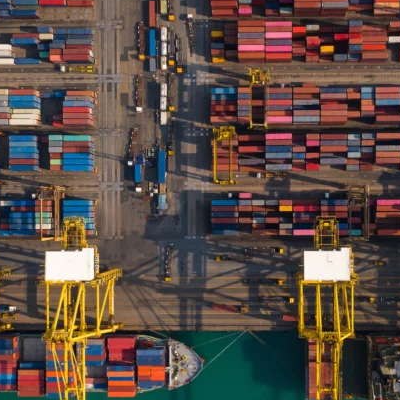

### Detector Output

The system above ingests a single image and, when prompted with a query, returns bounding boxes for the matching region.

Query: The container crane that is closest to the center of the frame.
[212,125,237,187]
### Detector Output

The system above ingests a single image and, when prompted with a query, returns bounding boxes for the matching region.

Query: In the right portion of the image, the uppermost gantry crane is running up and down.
[246,68,271,134]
